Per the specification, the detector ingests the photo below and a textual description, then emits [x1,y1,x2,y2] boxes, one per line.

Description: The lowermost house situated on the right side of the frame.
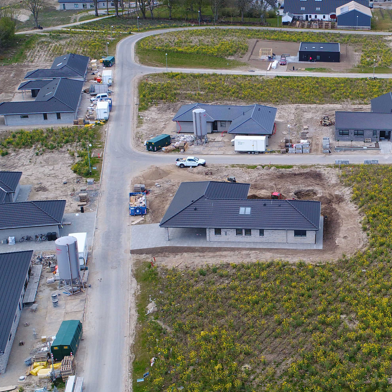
[157,180,321,243]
